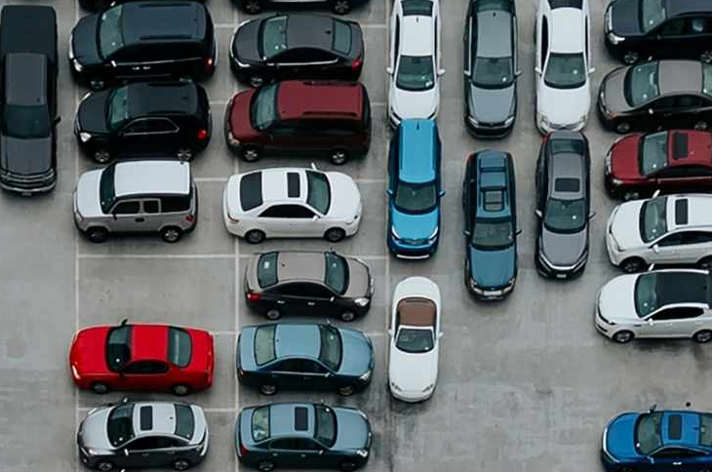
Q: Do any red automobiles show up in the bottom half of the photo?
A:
Yes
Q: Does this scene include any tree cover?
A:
No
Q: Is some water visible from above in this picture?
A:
No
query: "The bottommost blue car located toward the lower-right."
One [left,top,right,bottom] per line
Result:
[600,400,712,472]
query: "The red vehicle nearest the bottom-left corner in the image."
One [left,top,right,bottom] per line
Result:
[69,313,217,394]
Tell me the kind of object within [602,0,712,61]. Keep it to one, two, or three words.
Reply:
car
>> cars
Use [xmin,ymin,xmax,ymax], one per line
[595,49,712,133]
[603,187,712,272]
[531,127,598,280]
[383,0,448,121]
[459,0,525,139]
[531,0,598,130]
[222,73,374,163]
[601,118,712,200]
[384,107,449,261]
[600,400,712,472]
[69,313,217,394]
[73,75,213,162]
[229,3,367,86]
[602,0,712,61]
[592,261,712,342]
[234,315,377,395]
[384,271,448,406]
[67,0,219,88]
[234,392,376,471]
[243,240,377,321]
[72,157,200,243]
[458,145,525,303]
[222,160,365,242]
[77,392,210,471]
